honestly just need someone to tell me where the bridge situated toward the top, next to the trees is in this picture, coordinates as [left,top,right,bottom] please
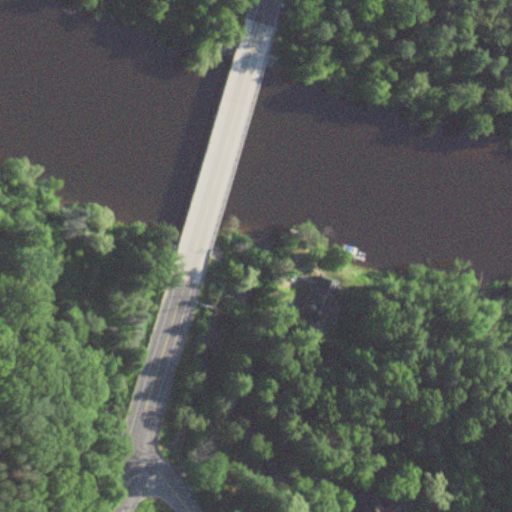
[173,20,278,290]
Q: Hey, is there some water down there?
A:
Yes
